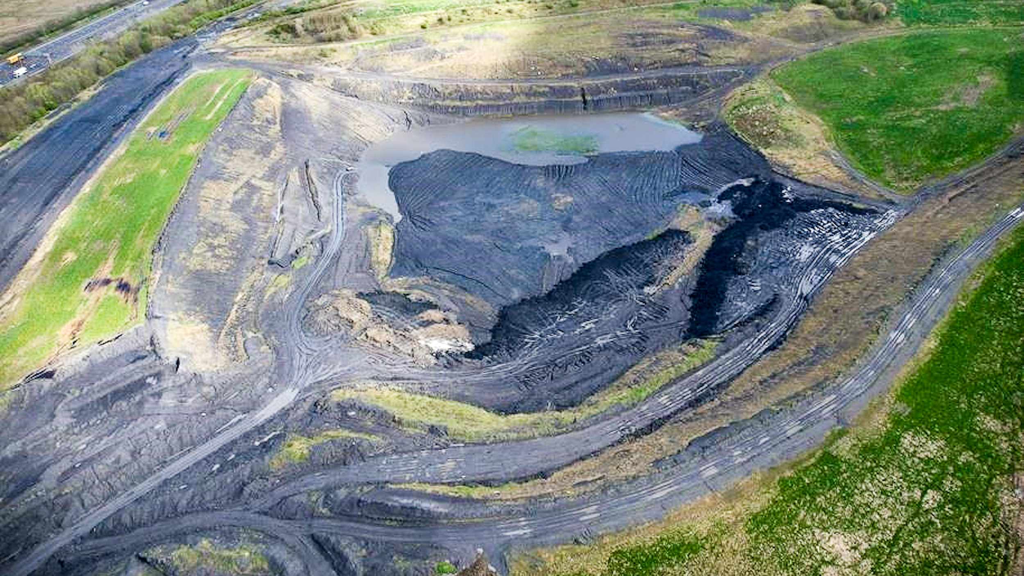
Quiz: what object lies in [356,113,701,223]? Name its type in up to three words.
pond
